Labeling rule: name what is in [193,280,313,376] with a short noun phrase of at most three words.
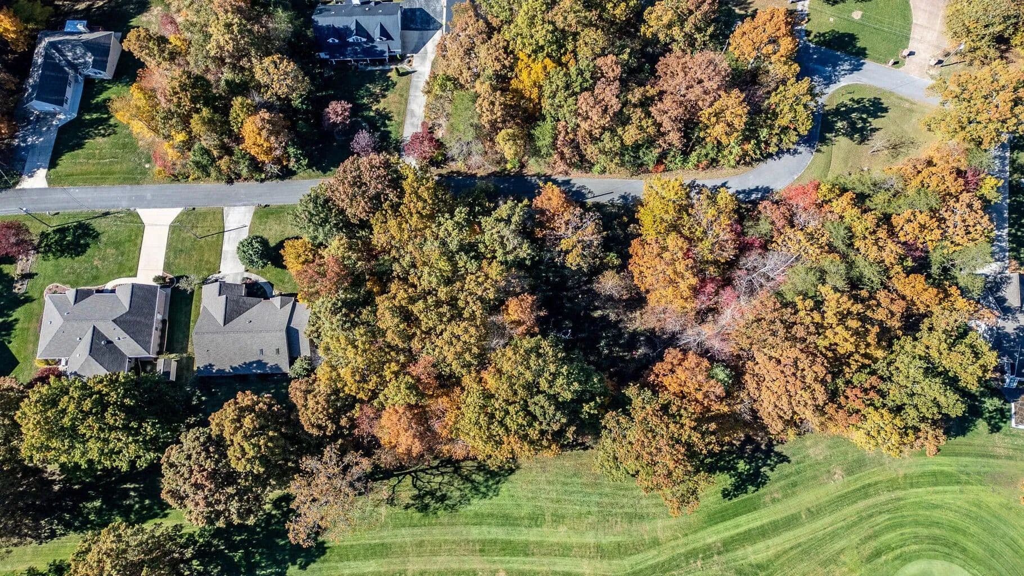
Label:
house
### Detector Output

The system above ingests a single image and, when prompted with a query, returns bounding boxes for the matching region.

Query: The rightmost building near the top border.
[312,0,404,64]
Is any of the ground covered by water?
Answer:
No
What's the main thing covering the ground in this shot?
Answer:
trees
